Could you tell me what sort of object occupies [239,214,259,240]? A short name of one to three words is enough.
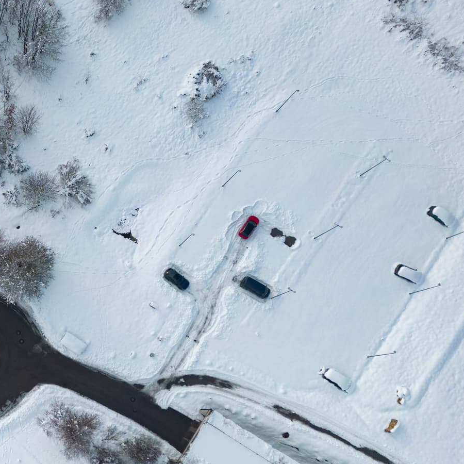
car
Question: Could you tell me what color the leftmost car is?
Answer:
black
